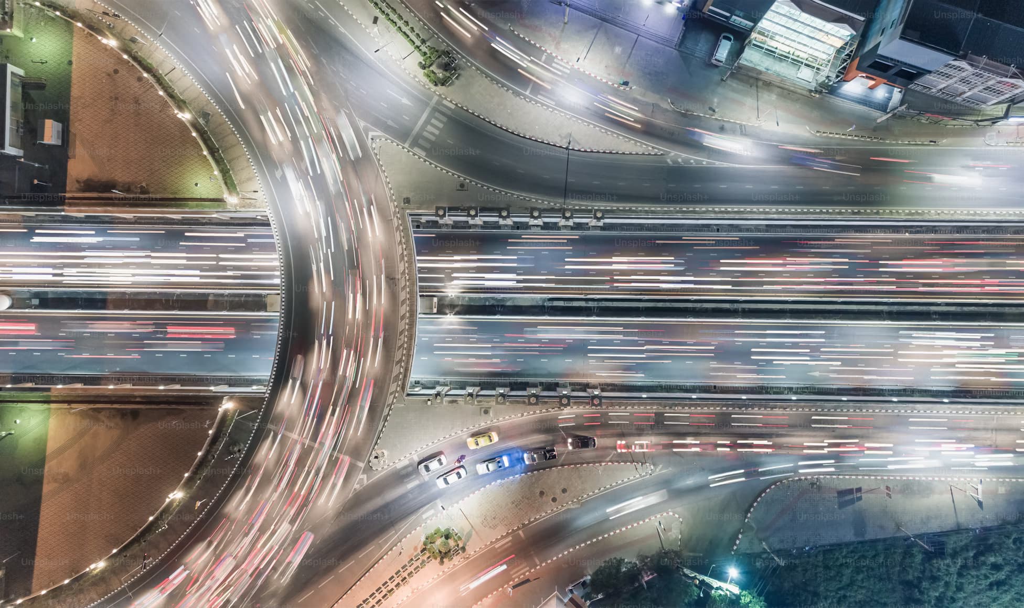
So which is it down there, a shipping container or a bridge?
bridge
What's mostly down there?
paved ground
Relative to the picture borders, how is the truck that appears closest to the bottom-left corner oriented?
diagonally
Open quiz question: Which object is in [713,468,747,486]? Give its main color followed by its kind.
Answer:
white car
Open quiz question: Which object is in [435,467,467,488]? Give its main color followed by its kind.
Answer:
white car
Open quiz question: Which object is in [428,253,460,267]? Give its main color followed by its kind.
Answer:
white vehicle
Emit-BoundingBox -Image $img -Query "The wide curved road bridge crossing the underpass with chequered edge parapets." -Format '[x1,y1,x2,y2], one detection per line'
[397,212,438,397]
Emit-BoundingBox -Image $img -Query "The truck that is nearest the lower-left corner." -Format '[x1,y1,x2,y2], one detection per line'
[163,557,198,589]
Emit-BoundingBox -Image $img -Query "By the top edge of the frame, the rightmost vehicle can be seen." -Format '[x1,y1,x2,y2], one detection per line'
[714,30,736,65]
